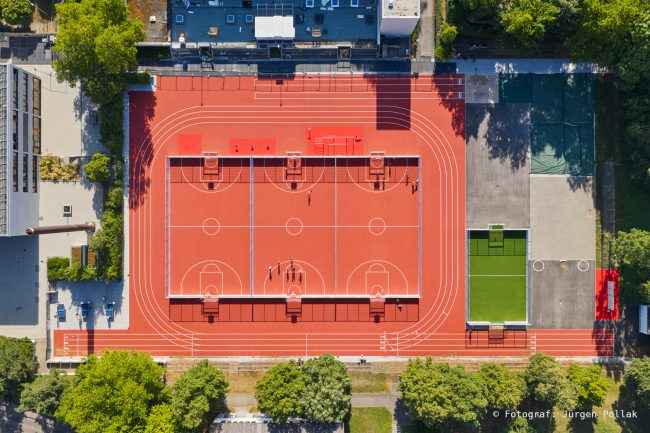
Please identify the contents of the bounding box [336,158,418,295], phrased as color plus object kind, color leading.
red basketball court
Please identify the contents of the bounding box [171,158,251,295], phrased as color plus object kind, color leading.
red basketball court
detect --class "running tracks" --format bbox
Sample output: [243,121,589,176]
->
[54,74,614,357]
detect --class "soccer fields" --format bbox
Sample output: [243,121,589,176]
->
[468,230,526,321]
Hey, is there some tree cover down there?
Yes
